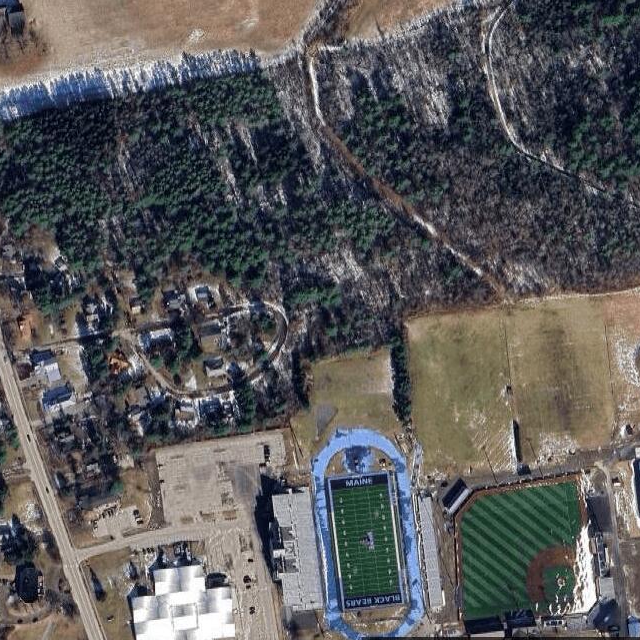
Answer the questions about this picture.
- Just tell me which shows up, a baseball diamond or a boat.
baseball diamond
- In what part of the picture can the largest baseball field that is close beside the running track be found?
bottom right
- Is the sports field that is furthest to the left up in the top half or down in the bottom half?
bottom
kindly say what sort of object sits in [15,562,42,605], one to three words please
building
